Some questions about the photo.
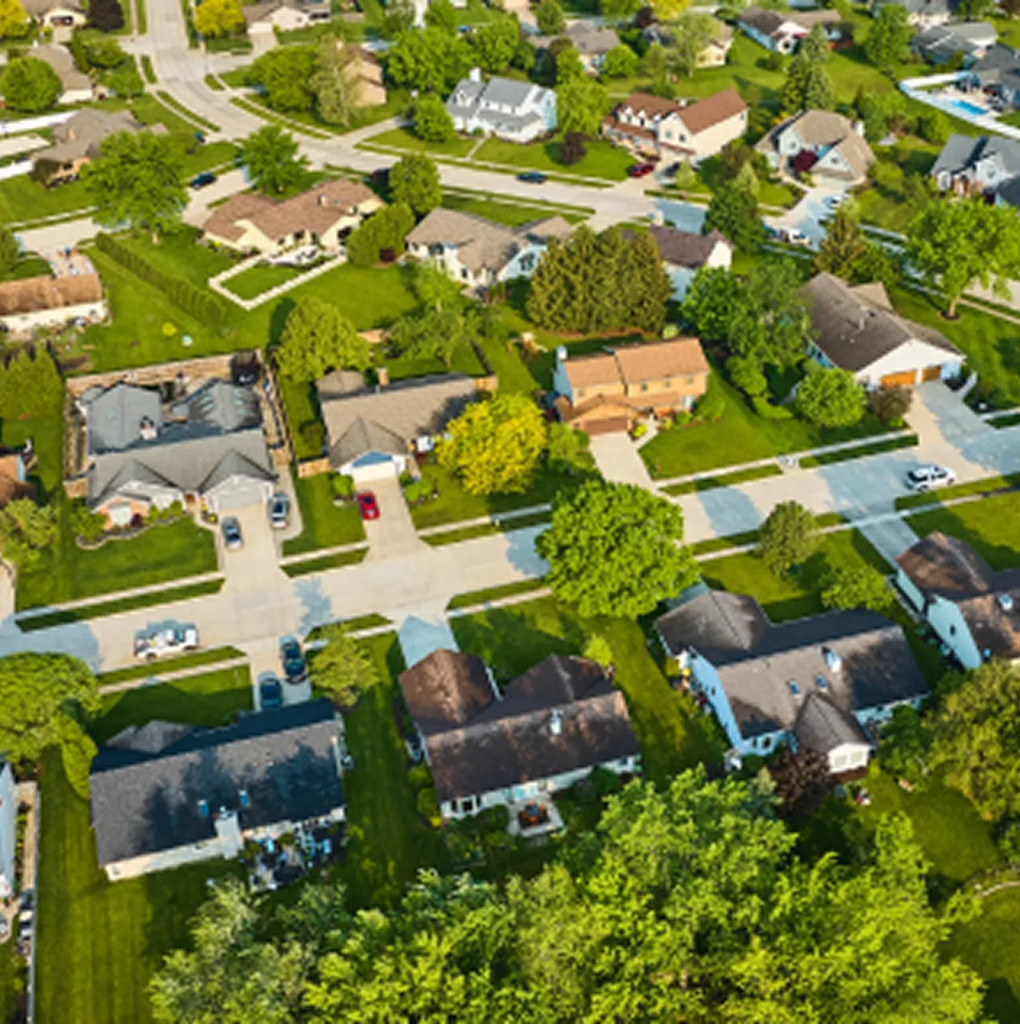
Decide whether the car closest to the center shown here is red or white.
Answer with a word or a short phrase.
red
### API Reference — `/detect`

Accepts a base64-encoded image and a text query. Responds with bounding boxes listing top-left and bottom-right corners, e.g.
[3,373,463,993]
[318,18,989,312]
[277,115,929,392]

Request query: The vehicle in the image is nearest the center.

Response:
[357,491,381,523]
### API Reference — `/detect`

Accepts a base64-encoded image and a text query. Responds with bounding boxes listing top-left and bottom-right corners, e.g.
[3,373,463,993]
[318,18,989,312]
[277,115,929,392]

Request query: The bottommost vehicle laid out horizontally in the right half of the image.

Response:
[906,467,955,492]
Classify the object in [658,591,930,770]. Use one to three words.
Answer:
house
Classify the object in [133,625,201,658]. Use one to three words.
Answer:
truck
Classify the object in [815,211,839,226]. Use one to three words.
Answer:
car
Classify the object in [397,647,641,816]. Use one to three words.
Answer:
house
